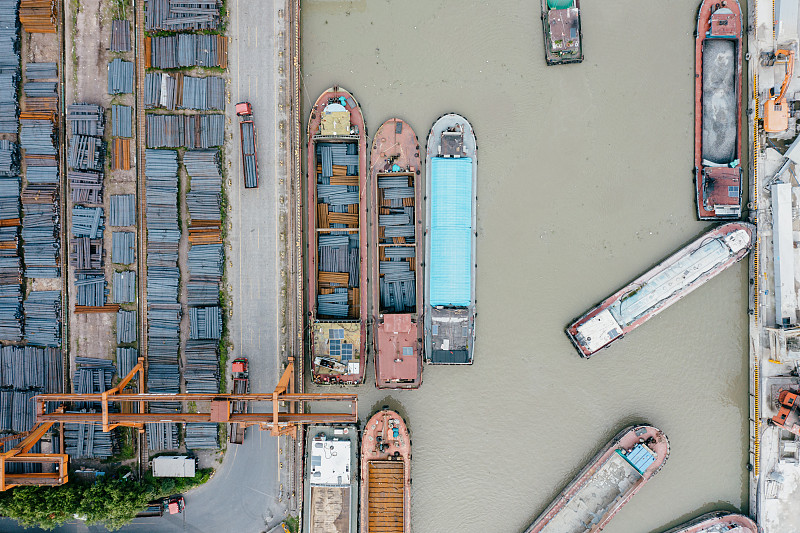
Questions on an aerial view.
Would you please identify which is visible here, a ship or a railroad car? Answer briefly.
ship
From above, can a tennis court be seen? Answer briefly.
No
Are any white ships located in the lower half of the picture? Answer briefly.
Yes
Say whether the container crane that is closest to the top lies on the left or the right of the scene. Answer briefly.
left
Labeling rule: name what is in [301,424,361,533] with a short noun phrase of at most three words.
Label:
ship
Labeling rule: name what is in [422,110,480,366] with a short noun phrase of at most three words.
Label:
ship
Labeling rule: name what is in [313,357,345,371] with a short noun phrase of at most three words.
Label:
boat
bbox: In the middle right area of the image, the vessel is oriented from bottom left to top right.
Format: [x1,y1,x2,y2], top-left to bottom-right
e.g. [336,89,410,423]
[562,220,758,360]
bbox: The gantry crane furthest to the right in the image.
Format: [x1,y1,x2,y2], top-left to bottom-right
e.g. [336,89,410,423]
[36,355,358,442]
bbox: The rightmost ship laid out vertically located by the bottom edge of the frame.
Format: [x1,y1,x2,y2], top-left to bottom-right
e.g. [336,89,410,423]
[359,403,414,533]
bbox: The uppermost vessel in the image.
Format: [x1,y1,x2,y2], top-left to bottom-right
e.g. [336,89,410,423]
[541,0,587,69]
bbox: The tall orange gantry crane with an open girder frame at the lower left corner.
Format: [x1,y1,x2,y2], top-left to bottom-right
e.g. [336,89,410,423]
[0,404,70,492]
